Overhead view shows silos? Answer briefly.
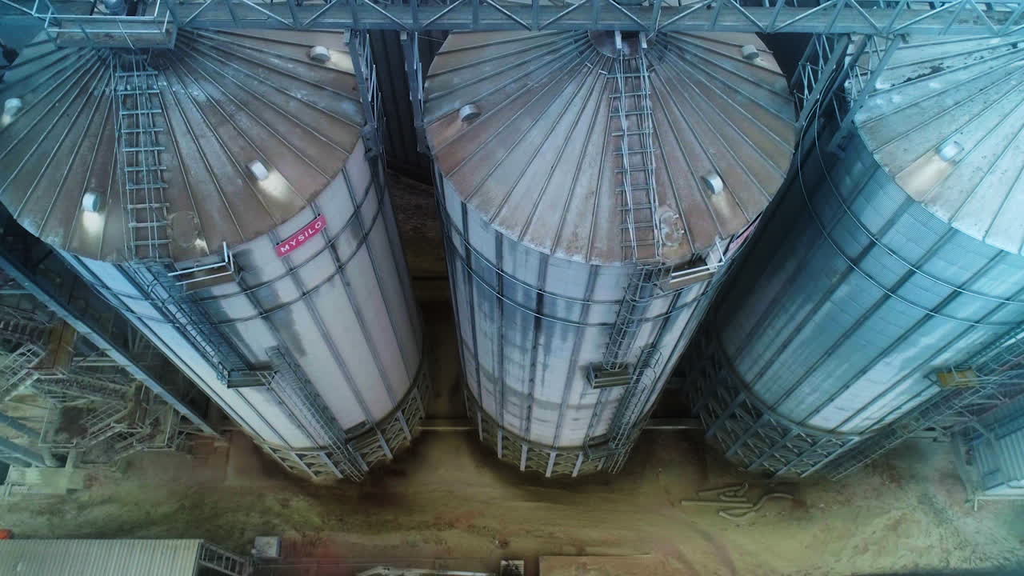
Yes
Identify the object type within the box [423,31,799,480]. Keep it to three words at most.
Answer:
silo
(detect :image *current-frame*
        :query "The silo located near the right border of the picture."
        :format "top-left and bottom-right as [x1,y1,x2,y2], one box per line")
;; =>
[681,0,1024,479]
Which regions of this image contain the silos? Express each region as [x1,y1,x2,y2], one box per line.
[681,0,1024,479]
[0,23,438,482]
[423,31,799,480]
